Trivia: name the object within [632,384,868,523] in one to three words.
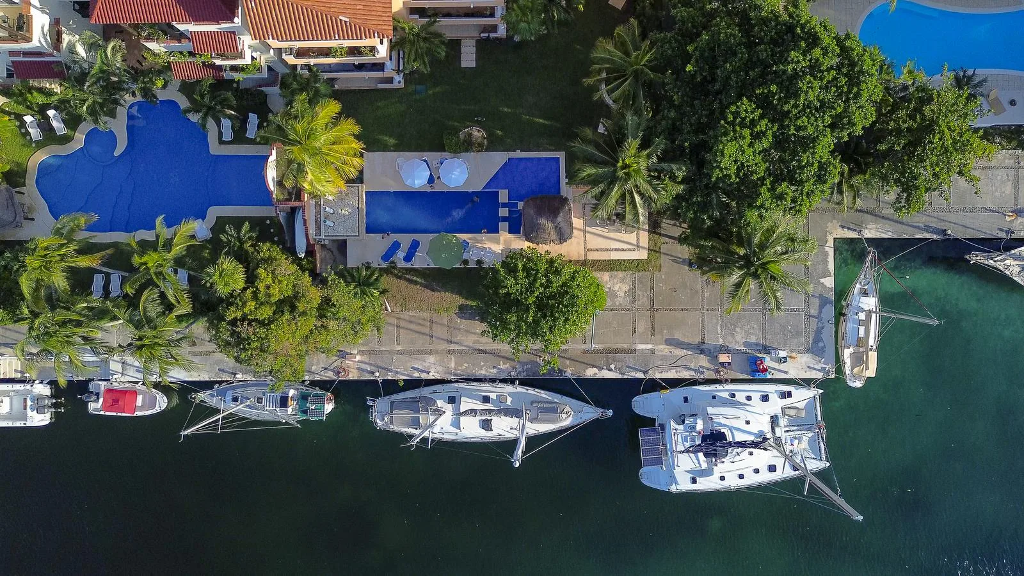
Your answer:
boat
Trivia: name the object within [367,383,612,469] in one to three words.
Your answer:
boat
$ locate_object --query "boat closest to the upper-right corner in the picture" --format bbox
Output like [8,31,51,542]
[961,246,1024,287]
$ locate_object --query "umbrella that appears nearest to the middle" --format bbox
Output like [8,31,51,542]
[428,232,466,270]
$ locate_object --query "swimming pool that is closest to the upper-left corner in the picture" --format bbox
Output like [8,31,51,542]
[26,91,280,240]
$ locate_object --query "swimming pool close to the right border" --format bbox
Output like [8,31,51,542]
[854,0,1024,84]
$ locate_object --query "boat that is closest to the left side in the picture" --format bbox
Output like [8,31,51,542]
[0,383,63,427]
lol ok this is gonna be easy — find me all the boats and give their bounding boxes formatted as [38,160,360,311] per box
[632,384,868,523]
[0,383,63,427]
[367,383,612,469]
[171,380,334,438]
[961,246,1024,287]
[72,380,172,416]
[839,247,941,387]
